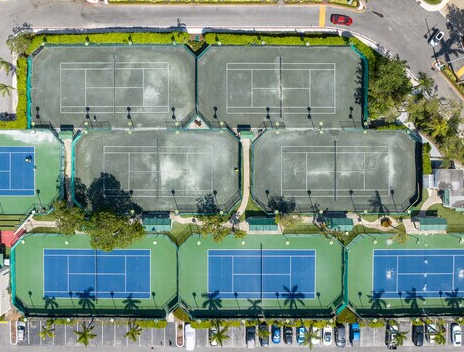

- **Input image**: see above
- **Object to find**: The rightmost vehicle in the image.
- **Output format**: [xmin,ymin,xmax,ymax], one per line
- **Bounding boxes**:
[450,322,463,344]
